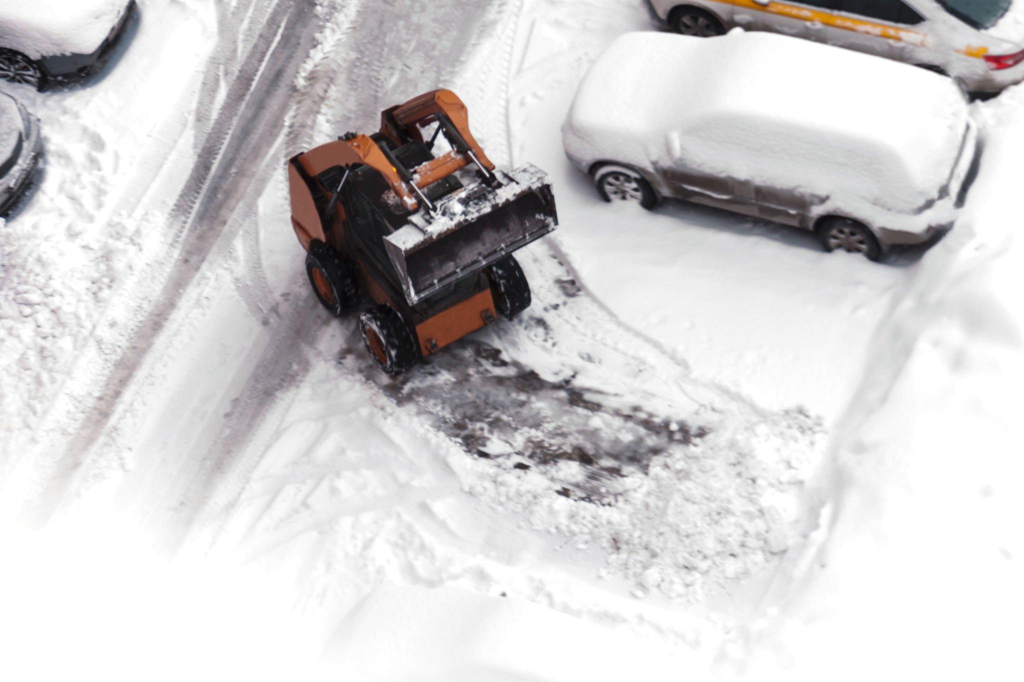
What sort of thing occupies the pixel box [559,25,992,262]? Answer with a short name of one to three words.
car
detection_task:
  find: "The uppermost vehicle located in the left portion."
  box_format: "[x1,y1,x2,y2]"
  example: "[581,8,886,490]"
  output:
[0,0,146,94]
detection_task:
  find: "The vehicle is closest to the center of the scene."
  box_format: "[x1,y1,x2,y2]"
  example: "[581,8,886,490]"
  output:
[288,91,562,374]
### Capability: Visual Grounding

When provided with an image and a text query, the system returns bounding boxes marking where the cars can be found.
[0,91,49,222]
[559,25,992,262]
[0,0,146,94]
[637,0,1024,95]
